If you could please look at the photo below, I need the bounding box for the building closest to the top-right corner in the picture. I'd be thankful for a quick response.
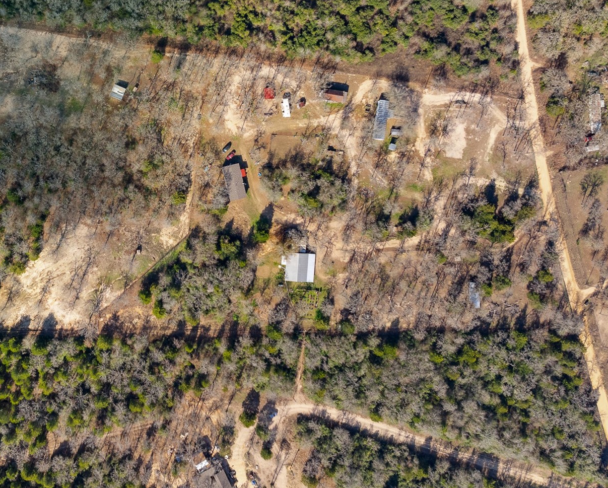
[587,94,604,132]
